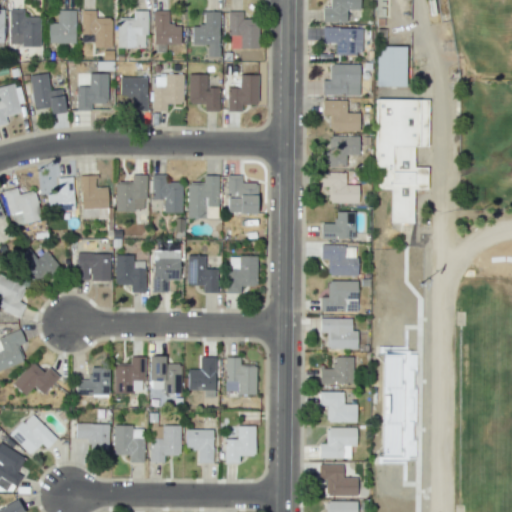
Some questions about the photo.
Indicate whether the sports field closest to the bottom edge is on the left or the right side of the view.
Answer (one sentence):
It is on the right.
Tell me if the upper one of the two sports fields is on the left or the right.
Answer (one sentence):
The upper one of the two sports fields appears in the right half of the scene.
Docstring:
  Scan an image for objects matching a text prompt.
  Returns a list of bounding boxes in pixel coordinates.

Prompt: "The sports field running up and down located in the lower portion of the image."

[456,240,512,512]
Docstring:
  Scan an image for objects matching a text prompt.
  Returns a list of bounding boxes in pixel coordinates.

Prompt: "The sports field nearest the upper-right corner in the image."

[452,0,512,206]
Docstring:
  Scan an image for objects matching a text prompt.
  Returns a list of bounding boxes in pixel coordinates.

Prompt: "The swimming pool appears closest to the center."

[190,224,214,236]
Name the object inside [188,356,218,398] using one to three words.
house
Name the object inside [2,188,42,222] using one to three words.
house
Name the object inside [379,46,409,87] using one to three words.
building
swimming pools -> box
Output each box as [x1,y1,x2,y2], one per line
[190,224,214,236]
[357,212,366,234]
[68,218,80,230]
[46,414,64,434]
